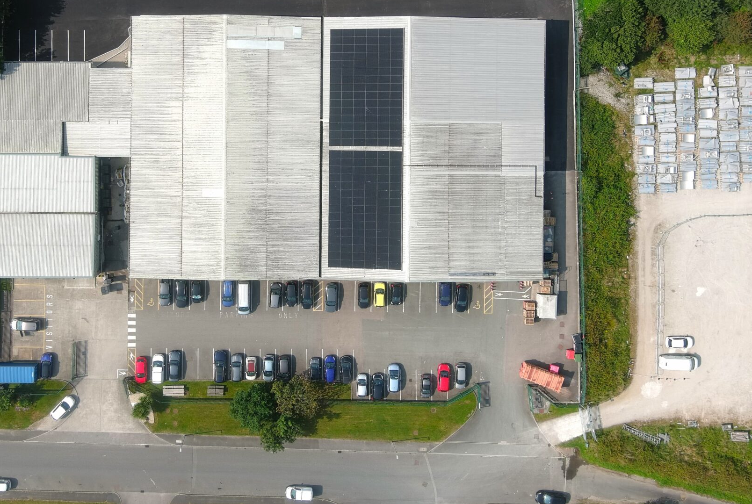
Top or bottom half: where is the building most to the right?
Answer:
top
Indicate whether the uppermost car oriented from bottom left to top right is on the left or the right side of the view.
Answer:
left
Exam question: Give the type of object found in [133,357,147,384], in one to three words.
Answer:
car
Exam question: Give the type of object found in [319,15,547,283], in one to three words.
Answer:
building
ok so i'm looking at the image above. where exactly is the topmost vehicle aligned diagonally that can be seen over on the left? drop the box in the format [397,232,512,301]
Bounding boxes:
[49,394,76,423]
